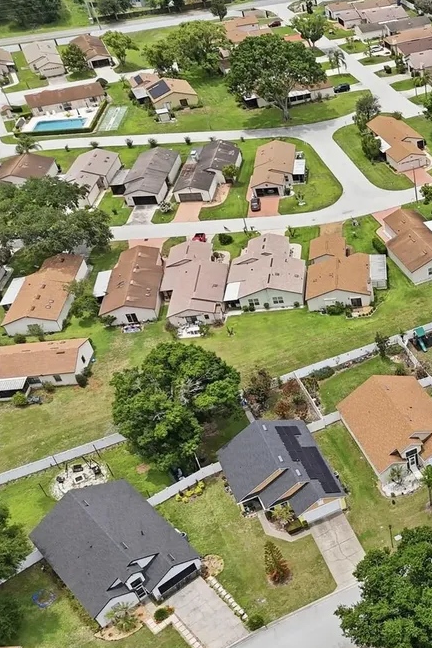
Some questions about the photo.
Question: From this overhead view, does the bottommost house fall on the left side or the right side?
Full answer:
The bottommost house sits on the left side.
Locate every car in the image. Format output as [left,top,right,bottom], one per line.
[265,17,282,26]
[332,80,352,91]
[193,229,206,245]
[367,44,384,52]
[251,193,262,210]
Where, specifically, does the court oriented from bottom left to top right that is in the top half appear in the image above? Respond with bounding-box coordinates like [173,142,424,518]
[98,106,127,131]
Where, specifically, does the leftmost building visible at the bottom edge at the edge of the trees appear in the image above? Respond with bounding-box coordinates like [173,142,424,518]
[28,481,198,626]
